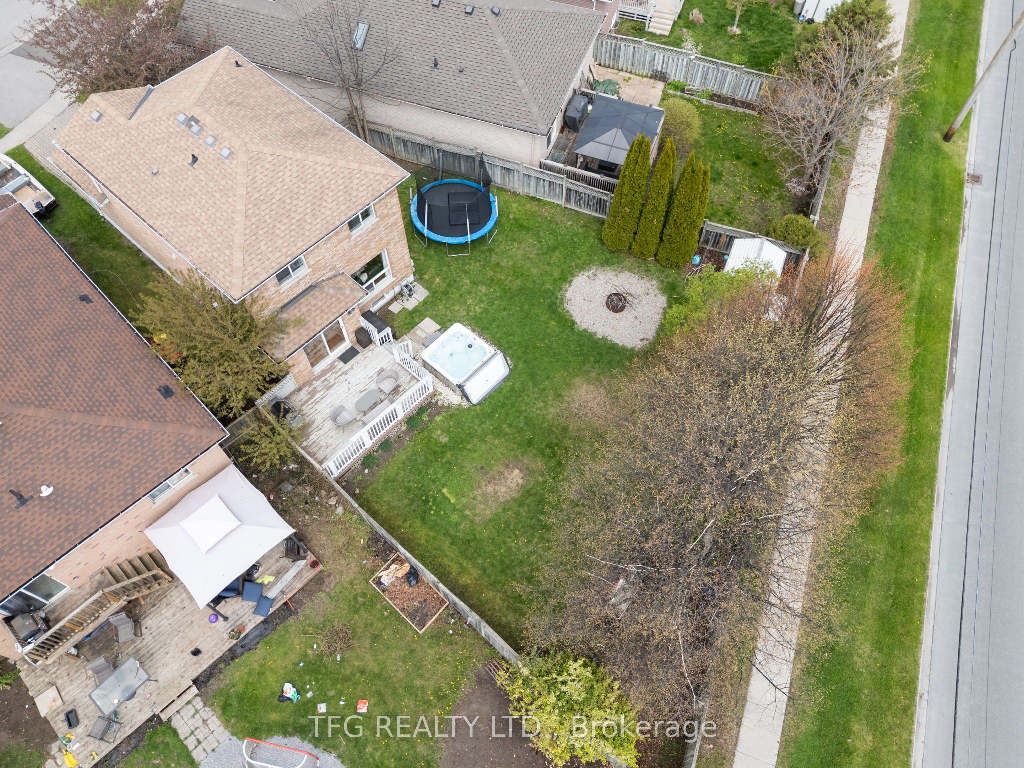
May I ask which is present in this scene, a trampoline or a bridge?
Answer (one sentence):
I can see a trampoline in this picture.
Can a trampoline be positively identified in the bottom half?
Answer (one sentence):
No, in the bottom half there is no trampoline.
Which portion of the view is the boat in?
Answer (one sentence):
The boat is located in the top left region of the scene.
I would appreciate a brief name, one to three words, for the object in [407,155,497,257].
trampoline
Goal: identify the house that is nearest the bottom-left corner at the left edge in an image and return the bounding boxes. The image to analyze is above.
[0,205,246,660]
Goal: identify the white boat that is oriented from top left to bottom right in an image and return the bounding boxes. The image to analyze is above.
[0,164,61,222]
